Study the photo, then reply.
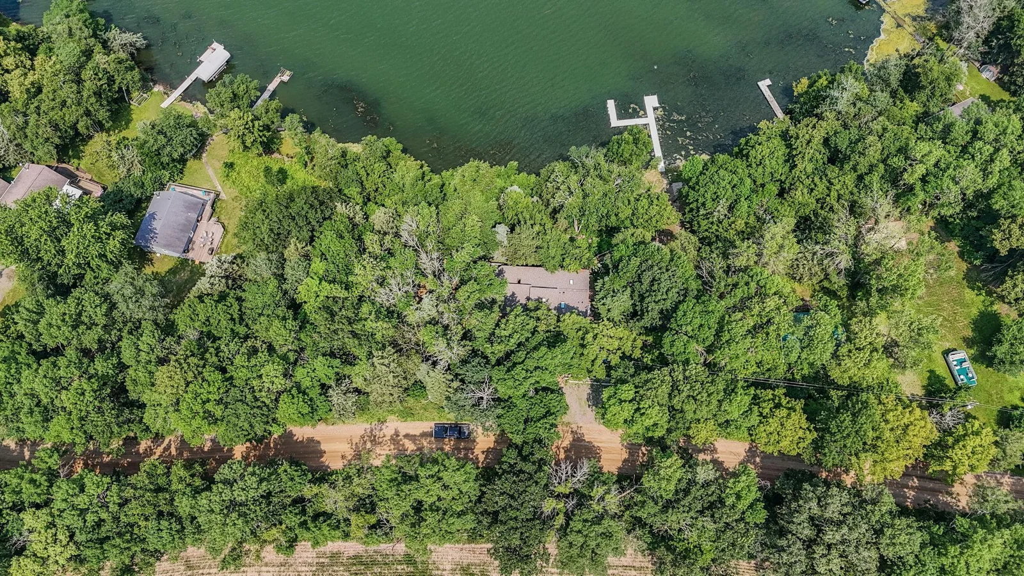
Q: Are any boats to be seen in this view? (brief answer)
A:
Yes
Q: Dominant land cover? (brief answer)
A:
trees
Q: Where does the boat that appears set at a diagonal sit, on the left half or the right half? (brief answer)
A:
right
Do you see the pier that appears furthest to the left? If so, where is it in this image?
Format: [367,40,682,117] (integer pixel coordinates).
[161,36,225,108]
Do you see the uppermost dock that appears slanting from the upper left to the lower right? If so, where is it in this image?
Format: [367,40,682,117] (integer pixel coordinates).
[877,0,926,48]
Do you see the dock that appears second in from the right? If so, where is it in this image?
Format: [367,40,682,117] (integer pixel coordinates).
[757,78,788,126]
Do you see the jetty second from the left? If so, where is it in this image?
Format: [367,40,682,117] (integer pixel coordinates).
[255,67,294,107]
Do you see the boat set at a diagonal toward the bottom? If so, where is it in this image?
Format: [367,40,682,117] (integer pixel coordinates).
[943,347,980,393]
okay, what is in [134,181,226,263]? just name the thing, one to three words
house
